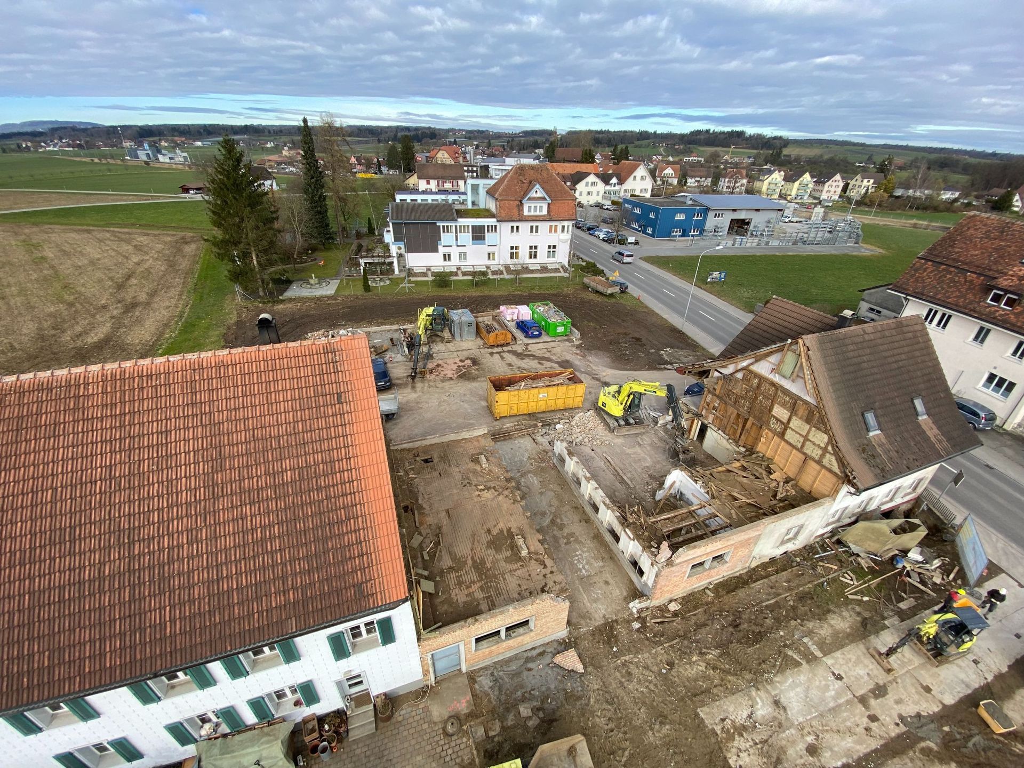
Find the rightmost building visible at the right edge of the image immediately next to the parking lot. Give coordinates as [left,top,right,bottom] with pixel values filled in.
[870,211,1024,425]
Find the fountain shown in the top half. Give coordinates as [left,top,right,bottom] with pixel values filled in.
[294,269,333,290]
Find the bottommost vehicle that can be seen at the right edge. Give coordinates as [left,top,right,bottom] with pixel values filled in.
[878,598,1001,684]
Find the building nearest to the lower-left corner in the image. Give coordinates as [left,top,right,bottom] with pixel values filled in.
[0,311,422,768]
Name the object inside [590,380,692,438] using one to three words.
work vehicle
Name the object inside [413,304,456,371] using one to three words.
work vehicle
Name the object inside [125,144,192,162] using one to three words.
building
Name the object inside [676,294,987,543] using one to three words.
house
